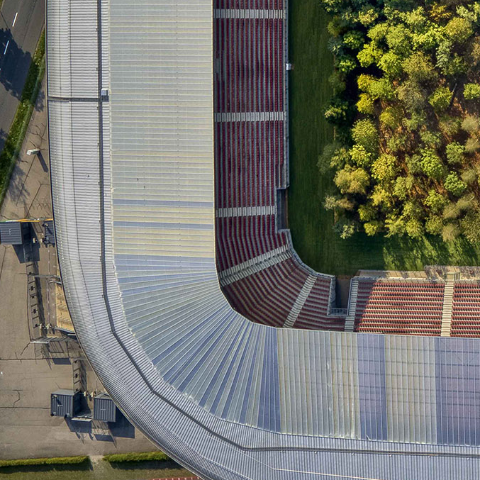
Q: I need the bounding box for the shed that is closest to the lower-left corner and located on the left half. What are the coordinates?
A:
[52,391,80,416]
